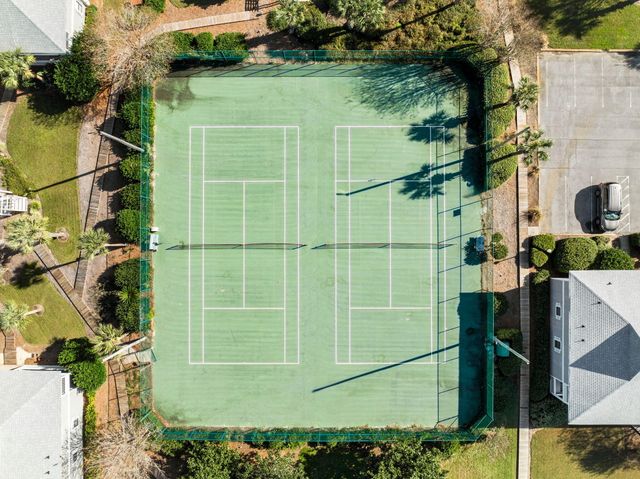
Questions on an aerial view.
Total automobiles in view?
1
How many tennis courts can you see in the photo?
2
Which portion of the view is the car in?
right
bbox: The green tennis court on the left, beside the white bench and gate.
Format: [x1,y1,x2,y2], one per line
[154,63,317,427]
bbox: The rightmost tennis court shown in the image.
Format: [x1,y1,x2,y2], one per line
[317,63,481,427]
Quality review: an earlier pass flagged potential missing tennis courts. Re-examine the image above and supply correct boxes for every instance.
[317,63,481,427]
[154,63,317,427]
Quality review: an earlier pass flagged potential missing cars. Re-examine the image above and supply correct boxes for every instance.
[594,182,622,232]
